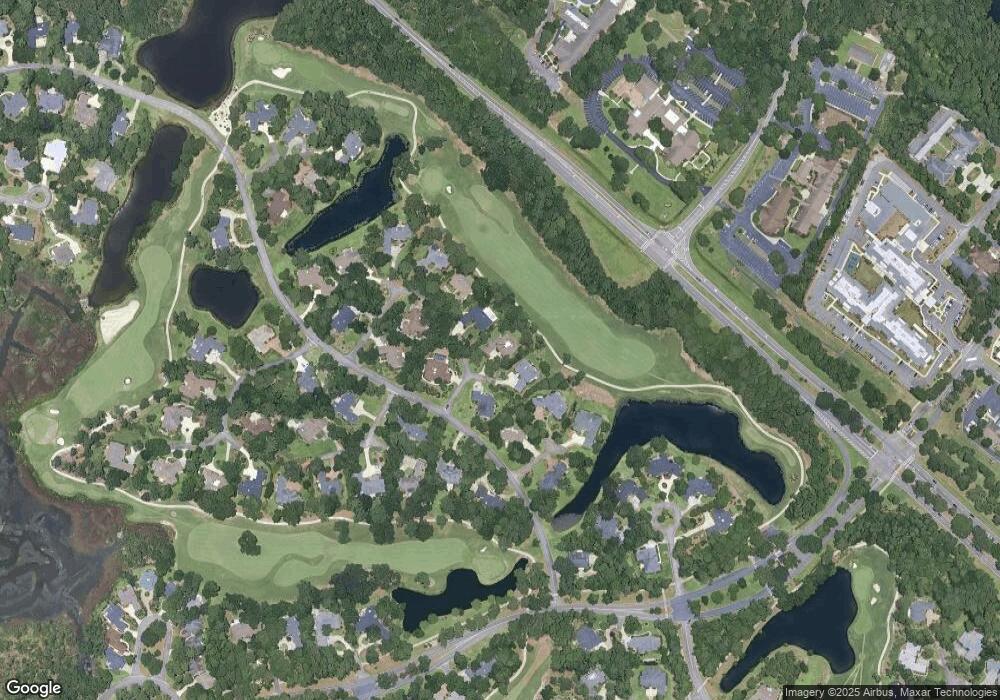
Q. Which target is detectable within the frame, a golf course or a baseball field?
golf course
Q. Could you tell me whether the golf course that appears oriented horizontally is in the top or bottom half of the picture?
bottom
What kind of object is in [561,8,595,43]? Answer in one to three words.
building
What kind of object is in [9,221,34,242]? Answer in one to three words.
house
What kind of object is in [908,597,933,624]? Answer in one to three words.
house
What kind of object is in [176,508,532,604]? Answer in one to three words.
golf course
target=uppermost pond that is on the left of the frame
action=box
[137,0,292,107]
